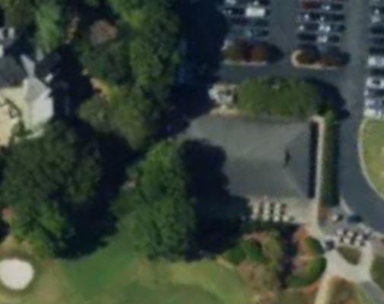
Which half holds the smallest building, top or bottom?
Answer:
top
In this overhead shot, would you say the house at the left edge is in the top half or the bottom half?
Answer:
top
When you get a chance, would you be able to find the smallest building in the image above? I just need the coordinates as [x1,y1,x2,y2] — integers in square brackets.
[210,85,235,105]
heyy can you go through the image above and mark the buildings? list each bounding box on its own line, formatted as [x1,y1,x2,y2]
[210,85,235,105]
[188,117,311,199]
[0,30,53,148]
